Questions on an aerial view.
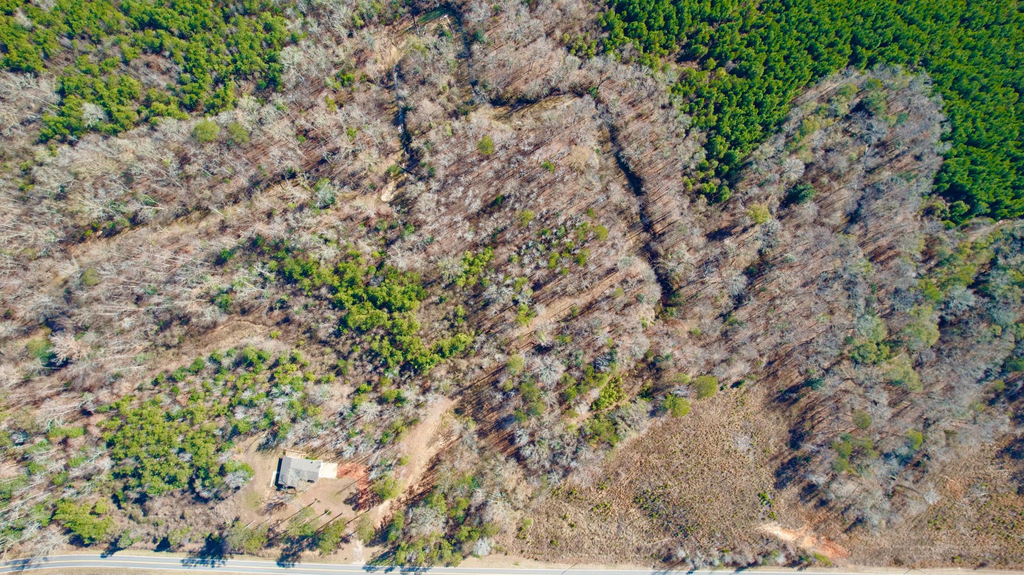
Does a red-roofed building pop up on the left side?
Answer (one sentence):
No, no red-roofed building appears on the left side.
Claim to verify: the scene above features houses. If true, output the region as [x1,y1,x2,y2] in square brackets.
[280,450,322,485]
